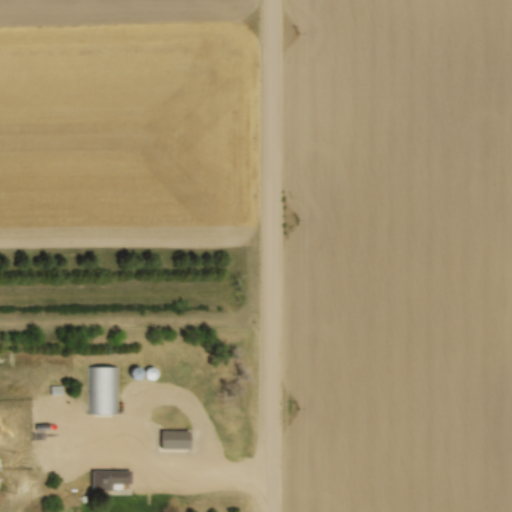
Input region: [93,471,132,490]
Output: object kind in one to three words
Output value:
house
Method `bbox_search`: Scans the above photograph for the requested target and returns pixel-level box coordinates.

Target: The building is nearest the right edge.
[162,430,193,449]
